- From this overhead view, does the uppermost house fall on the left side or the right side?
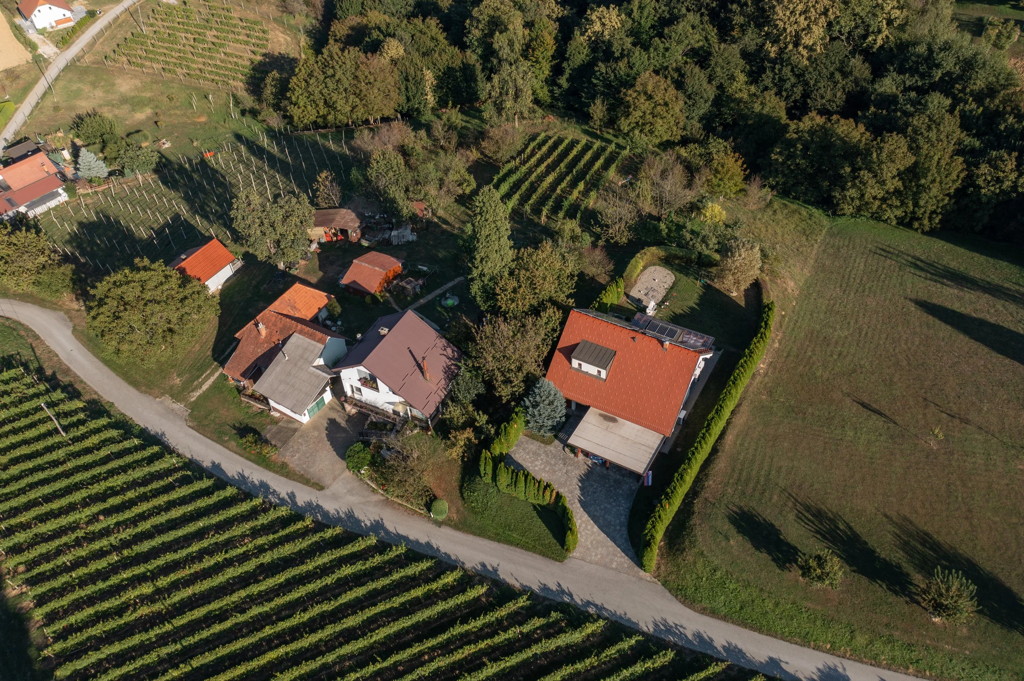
left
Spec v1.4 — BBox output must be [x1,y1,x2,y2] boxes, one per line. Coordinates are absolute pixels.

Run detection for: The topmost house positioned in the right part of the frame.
[545,309,714,447]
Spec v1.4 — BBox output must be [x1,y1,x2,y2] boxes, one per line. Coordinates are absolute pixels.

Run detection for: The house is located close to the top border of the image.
[25,0,75,28]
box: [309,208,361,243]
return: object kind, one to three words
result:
shed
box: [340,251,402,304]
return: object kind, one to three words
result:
shed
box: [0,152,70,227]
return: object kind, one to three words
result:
house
